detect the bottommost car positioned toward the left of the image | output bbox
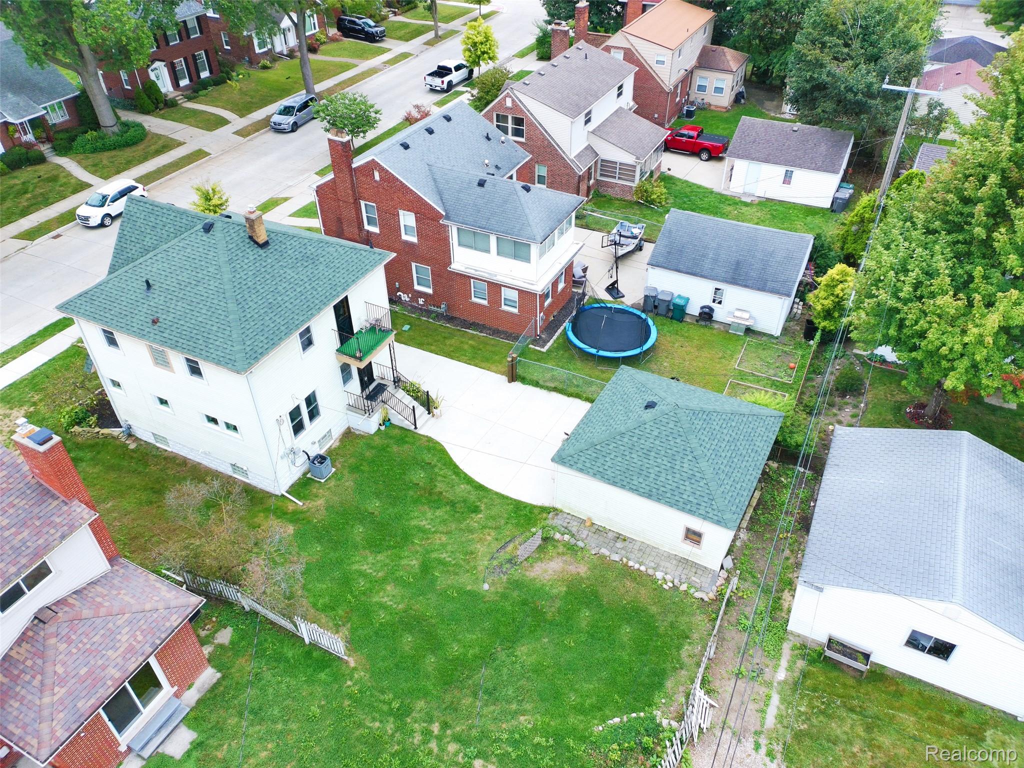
[77,180,154,227]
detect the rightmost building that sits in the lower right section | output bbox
[786,427,1024,722]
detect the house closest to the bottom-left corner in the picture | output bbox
[0,420,214,768]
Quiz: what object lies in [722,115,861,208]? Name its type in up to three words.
building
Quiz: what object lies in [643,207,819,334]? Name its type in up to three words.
building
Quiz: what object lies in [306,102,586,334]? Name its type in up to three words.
house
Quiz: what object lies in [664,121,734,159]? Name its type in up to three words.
truck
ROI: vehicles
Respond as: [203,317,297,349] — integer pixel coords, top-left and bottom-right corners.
[77,180,154,227]
[333,17,384,43]
[426,59,478,91]
[269,93,327,132]
[664,121,734,159]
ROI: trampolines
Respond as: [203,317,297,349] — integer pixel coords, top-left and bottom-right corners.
[563,276,658,371]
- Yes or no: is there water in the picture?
No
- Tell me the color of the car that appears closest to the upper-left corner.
white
